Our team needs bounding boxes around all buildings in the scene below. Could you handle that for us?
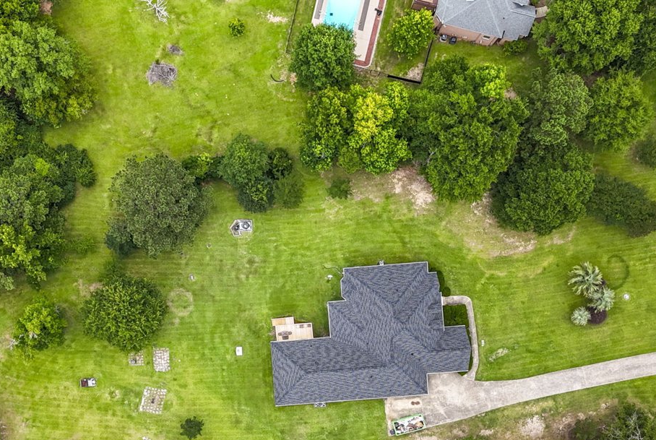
[271,261,470,406]
[431,0,541,49]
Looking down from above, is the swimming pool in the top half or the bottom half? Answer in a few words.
top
